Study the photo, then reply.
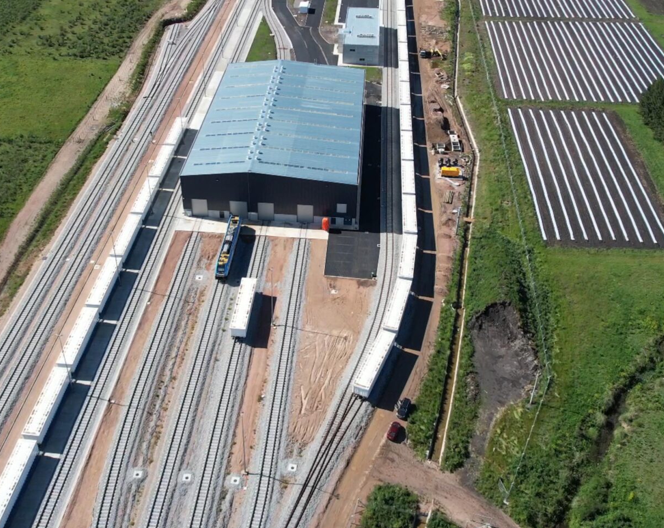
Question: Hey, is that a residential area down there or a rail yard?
rail yard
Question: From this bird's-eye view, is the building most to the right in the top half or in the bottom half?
top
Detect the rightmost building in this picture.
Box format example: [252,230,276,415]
[334,7,379,65]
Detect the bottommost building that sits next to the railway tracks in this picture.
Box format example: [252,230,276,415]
[178,59,366,224]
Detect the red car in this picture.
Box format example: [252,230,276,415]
[388,421,401,441]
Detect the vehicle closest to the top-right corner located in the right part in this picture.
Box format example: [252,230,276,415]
[419,41,449,58]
